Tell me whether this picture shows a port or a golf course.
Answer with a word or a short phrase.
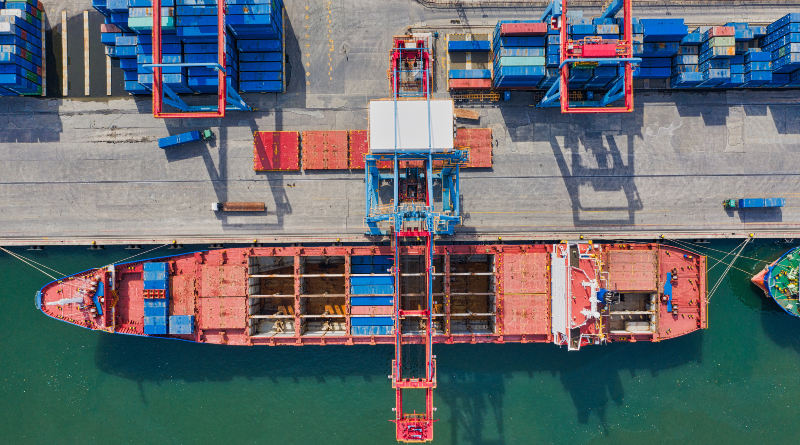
port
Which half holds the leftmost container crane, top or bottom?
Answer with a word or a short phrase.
top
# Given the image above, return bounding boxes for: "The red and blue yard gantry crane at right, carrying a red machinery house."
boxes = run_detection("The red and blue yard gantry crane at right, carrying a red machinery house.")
[529,0,644,114]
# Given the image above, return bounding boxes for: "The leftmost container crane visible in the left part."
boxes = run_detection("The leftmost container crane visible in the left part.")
[141,0,261,119]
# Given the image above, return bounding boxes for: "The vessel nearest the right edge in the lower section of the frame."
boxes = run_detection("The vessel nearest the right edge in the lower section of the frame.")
[750,244,800,319]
